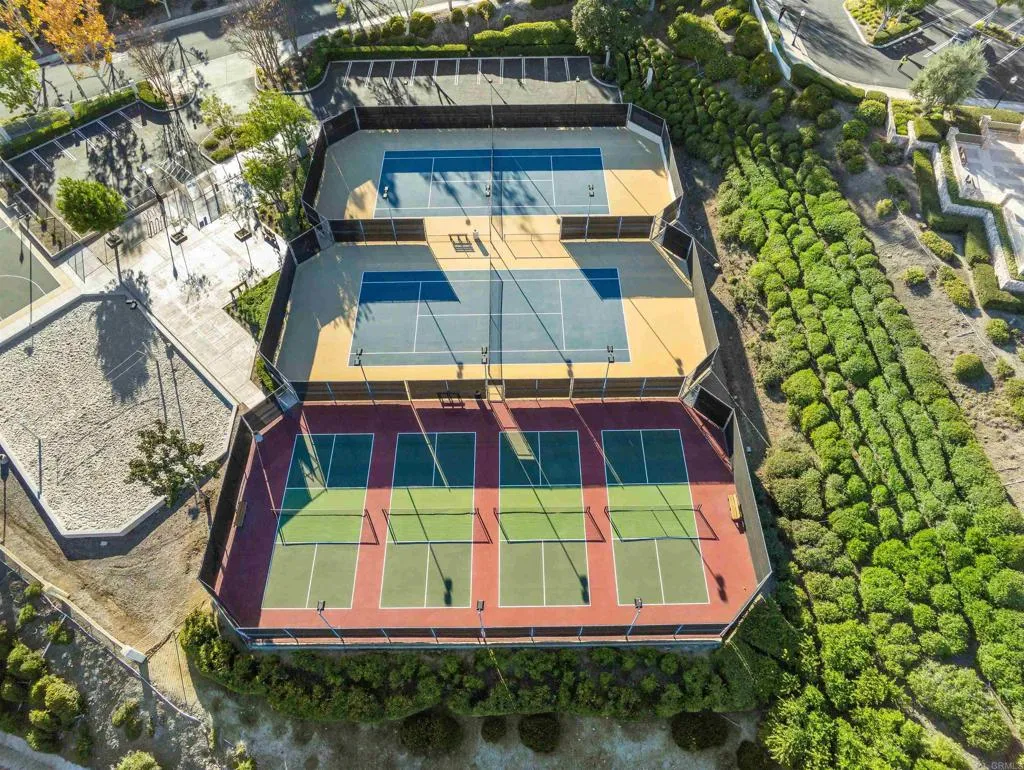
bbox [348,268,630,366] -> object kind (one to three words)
tennis court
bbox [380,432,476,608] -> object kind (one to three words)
sports court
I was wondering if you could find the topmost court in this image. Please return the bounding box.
[373,147,610,218]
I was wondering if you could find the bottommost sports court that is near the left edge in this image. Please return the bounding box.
[0,290,243,542]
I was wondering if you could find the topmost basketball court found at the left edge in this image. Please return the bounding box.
[0,196,78,333]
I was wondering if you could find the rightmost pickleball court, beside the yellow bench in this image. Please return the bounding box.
[602,430,711,605]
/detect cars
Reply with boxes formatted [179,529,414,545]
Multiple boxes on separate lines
[953,22,986,44]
